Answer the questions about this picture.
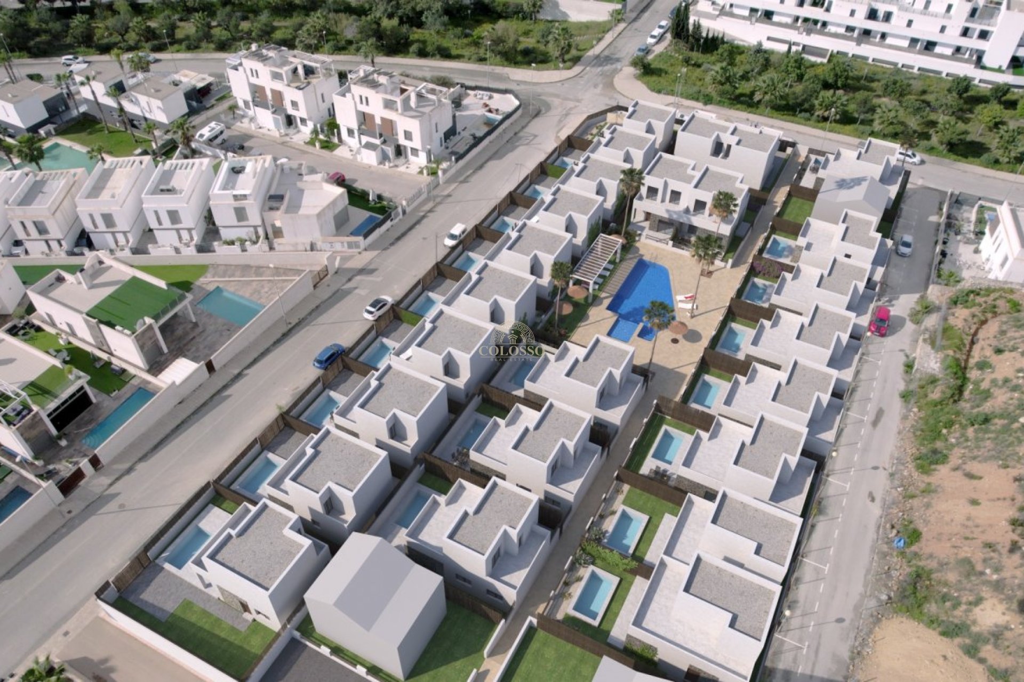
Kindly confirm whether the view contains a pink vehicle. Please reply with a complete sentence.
Yes, I can see a pink vehicle in this picture.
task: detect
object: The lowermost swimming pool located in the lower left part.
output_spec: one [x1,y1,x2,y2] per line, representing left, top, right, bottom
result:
[165,527,217,581]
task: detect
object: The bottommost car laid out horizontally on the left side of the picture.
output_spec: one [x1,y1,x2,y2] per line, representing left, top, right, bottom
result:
[321,168,353,184]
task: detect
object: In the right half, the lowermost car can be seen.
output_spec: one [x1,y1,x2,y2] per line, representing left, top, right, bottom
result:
[871,305,890,335]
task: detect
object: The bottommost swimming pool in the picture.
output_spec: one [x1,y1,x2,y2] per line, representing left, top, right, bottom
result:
[566,565,620,626]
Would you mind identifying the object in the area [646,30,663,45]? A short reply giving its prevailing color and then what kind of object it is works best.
white car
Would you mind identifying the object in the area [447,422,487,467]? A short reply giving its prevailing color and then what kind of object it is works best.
blue swimming pool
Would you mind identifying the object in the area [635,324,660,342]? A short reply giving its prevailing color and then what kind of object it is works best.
blue swimming pool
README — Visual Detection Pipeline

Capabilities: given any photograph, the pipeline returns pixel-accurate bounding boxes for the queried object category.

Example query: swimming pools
[300,391,349,430]
[566,565,620,626]
[524,186,551,201]
[644,433,685,476]
[604,316,642,344]
[688,375,726,413]
[358,337,400,370]
[0,478,37,525]
[447,422,487,467]
[762,240,789,259]
[383,498,427,550]
[165,527,217,581]
[192,285,267,326]
[739,278,771,304]
[554,157,578,170]
[635,324,660,342]
[600,504,650,559]
[715,323,750,355]
[234,453,287,499]
[502,360,538,398]
[409,291,446,318]
[490,216,520,235]
[602,255,679,331]
[453,251,486,273]
[350,214,382,237]
[77,386,158,450]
